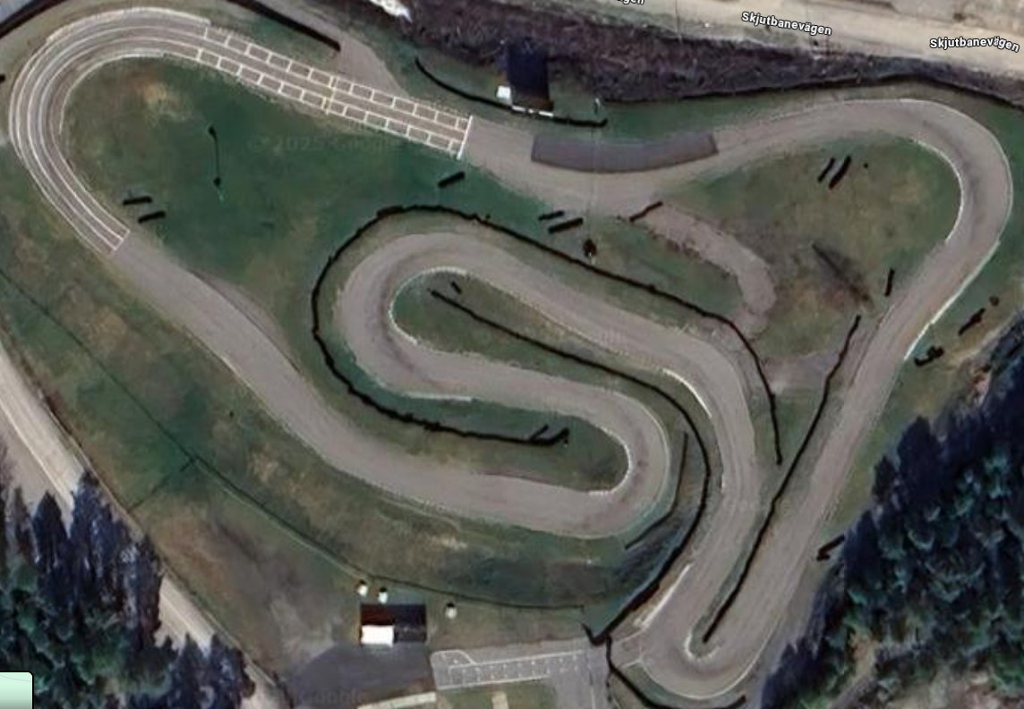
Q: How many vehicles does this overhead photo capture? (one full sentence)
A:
The count of vehicles is 0.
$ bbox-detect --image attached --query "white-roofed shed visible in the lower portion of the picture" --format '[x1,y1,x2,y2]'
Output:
[360,620,392,644]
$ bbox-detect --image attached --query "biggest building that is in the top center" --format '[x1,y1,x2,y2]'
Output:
[509,85,552,113]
